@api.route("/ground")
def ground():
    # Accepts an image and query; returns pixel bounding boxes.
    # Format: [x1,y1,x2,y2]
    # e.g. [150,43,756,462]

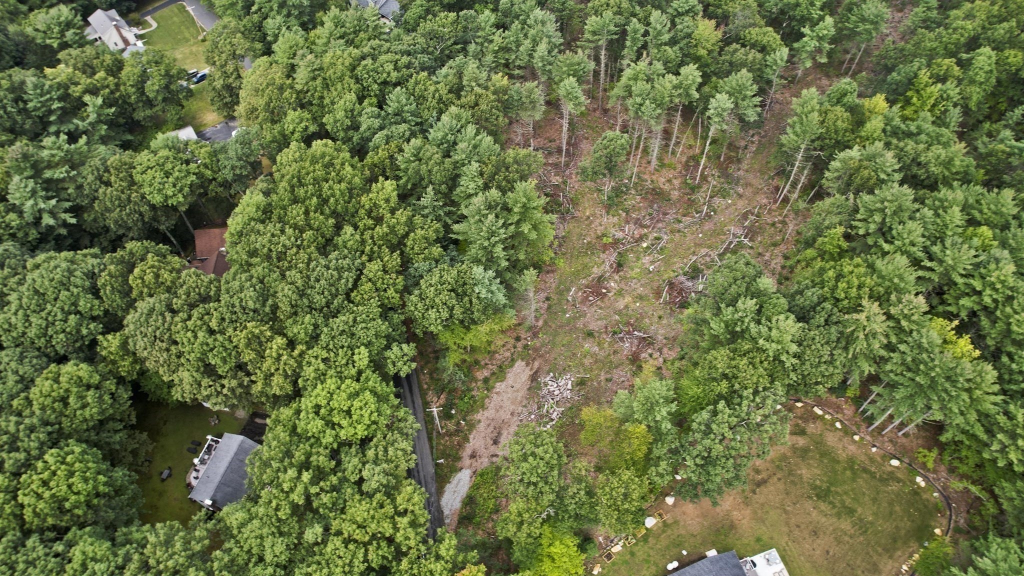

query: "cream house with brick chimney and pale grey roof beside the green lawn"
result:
[90,9,158,66]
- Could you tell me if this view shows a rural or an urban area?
rural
